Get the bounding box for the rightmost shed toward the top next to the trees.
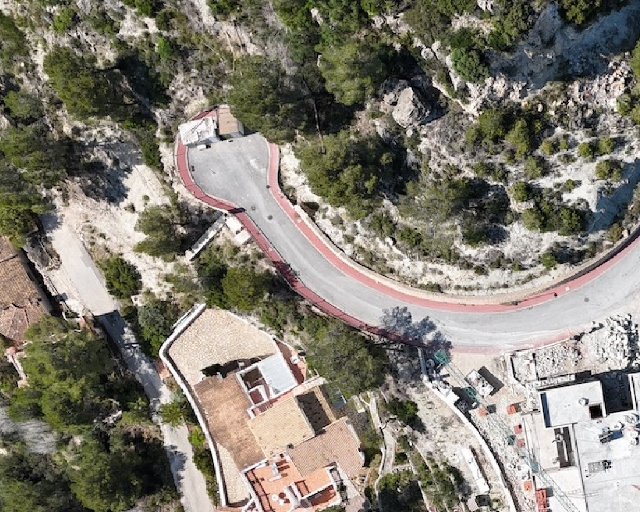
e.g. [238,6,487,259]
[218,106,250,140]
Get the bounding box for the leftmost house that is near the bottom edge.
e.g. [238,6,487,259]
[194,339,367,512]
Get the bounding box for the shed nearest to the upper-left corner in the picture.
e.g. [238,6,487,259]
[179,116,226,149]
